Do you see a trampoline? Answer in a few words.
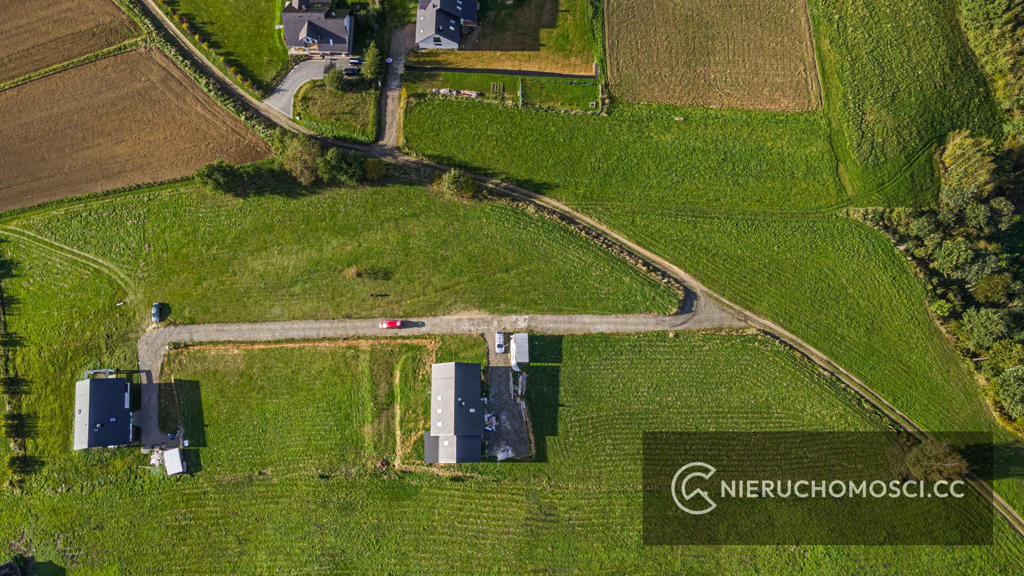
No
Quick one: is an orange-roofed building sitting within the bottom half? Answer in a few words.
No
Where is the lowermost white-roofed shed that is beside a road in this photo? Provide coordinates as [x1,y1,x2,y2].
[164,448,188,475]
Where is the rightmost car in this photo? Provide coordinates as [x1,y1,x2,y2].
[494,331,509,355]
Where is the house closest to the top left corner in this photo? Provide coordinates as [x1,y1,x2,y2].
[280,0,360,67]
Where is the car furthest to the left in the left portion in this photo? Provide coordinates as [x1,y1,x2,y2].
[148,302,161,323]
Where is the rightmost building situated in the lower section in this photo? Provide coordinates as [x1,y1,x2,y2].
[423,361,485,463]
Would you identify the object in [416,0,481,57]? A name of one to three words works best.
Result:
house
